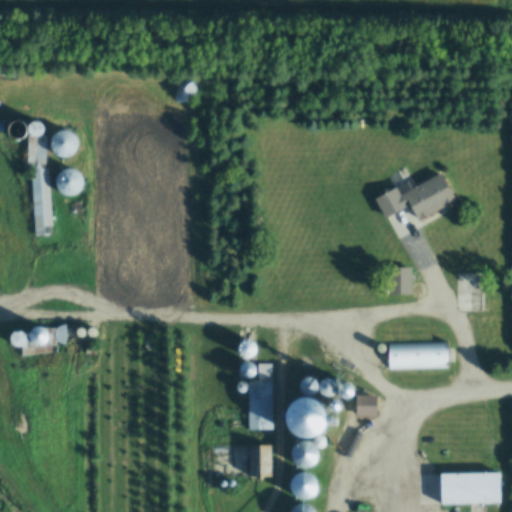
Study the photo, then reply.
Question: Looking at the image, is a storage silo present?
Yes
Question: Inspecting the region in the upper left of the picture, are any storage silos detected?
Yes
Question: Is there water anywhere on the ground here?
No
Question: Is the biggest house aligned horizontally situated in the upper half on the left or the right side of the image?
right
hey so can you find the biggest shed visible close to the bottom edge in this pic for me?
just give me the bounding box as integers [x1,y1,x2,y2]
[442,472,502,506]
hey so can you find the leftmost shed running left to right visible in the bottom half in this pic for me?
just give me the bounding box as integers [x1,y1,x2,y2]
[21,342,56,357]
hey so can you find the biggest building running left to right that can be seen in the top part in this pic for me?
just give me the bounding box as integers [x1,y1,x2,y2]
[377,174,456,218]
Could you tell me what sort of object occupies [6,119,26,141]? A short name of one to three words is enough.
silo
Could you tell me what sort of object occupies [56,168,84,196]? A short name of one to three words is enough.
silo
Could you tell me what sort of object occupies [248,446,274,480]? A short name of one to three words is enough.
barn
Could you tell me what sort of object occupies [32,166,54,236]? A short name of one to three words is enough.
barn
